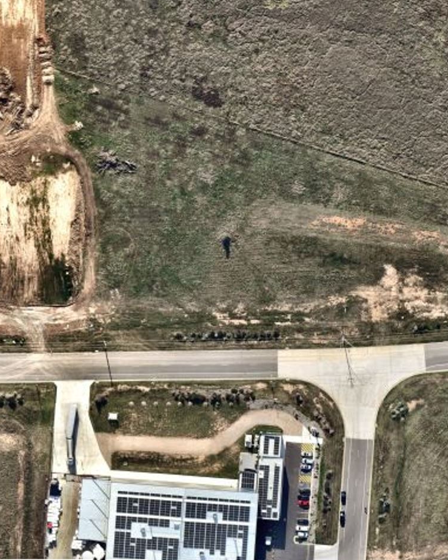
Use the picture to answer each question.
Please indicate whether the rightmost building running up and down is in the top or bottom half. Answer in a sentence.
The bottom half of the photo is where the rightmost building running up and down is.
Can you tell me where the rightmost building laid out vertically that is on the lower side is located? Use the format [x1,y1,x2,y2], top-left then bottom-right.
[256,434,285,521]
